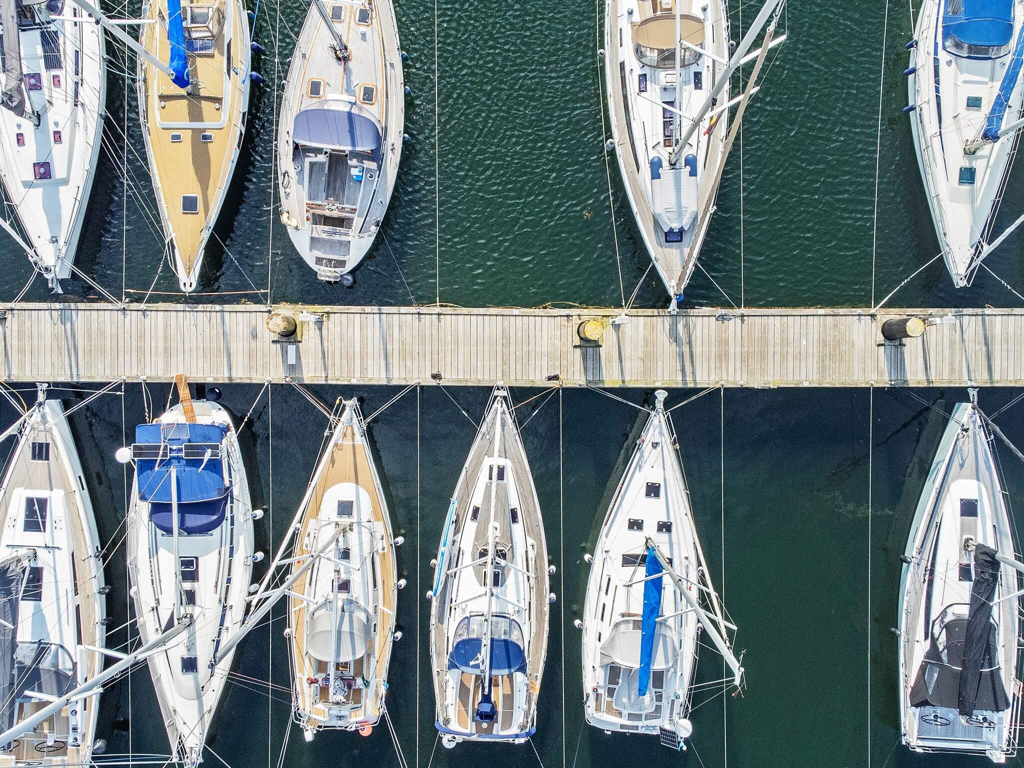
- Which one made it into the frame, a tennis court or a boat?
boat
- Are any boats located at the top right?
Yes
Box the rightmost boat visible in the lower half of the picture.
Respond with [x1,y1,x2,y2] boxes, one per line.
[892,388,1024,761]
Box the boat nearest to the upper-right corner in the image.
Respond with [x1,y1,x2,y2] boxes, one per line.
[905,0,1024,294]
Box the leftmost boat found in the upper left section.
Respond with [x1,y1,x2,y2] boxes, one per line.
[0,0,112,290]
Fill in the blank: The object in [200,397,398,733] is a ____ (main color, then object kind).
white boat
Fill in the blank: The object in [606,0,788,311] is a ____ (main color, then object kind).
white boat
